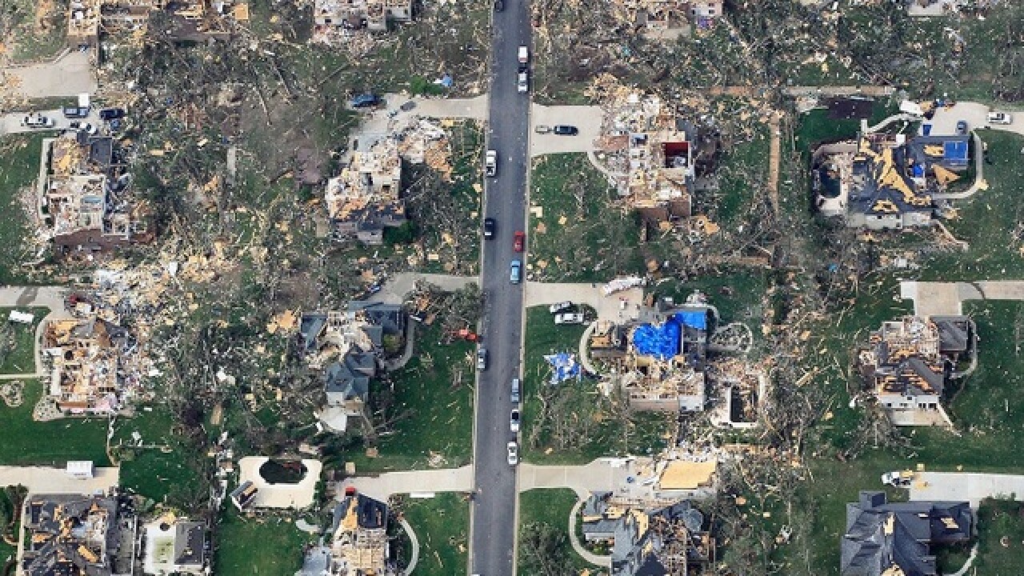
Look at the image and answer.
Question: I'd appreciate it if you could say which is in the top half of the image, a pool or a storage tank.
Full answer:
The one visible in the top half of the image is a pool.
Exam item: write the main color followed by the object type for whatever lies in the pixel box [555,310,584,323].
white vehicle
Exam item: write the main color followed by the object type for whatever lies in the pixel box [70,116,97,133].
white car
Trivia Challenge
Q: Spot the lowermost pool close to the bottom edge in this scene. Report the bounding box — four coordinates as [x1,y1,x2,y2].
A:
[152,535,175,565]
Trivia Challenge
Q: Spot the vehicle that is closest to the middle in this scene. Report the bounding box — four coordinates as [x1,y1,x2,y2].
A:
[510,259,522,282]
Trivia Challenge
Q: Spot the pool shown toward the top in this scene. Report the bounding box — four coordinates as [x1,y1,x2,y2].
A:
[818,160,841,198]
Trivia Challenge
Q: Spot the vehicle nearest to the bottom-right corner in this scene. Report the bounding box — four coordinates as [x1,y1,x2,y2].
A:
[882,470,914,485]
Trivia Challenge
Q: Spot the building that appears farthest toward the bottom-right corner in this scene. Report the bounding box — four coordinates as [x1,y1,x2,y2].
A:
[840,490,970,576]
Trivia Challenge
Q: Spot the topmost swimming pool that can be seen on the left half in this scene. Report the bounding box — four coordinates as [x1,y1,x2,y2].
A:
[258,459,308,485]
